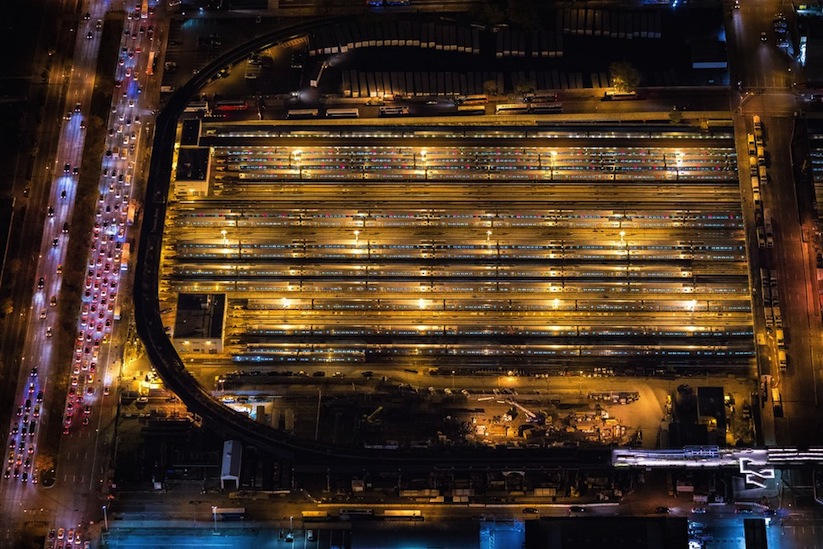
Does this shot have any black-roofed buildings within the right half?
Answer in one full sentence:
Yes, a black-roofed building can be seen within the right half.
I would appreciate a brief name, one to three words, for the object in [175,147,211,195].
building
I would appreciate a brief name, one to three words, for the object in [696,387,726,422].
building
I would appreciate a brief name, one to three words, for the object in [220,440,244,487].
shed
